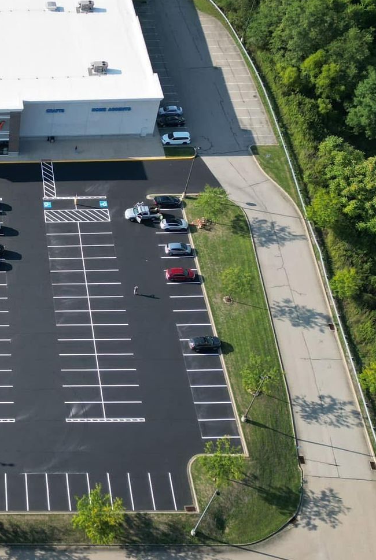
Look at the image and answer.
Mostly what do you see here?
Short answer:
paved ground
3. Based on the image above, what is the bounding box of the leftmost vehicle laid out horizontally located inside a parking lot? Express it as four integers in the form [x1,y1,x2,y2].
[125,207,160,223]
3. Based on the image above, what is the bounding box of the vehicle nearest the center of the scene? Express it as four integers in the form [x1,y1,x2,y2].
[165,268,196,283]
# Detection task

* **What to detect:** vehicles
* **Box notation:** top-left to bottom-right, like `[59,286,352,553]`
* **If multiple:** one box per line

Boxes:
[159,107,184,118]
[165,268,196,283]
[187,337,221,352]
[160,132,191,146]
[164,243,193,257]
[158,117,185,129]
[159,219,190,233]
[152,197,181,209]
[125,207,160,223]
[0,244,5,257]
